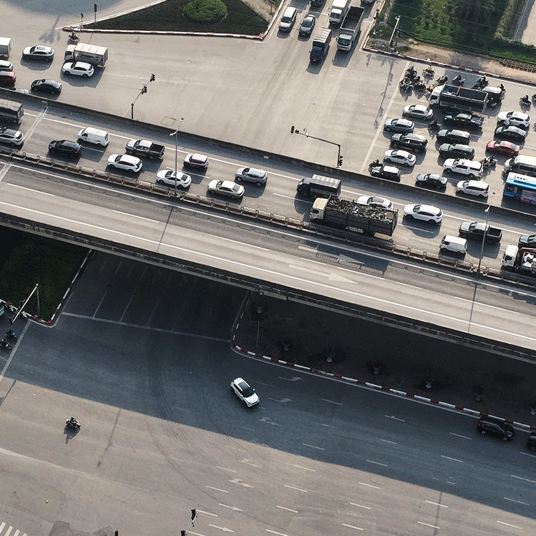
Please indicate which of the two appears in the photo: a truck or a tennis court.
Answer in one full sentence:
This aerial view contains a truck.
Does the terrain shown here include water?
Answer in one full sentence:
No, no water is visible.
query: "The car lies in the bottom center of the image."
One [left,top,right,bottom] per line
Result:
[231,378,258,407]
